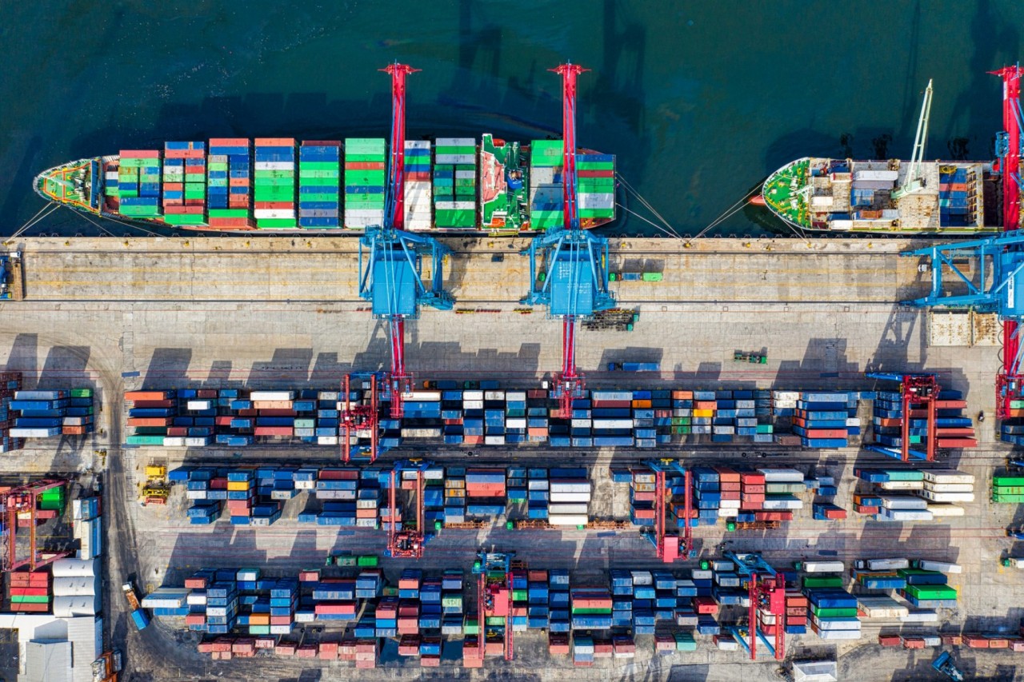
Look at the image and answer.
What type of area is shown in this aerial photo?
port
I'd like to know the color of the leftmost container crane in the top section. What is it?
blue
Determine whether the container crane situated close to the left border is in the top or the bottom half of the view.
bottom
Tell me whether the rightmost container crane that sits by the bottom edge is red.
Yes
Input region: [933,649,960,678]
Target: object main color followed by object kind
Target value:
blue truck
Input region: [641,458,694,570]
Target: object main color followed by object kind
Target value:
red container crane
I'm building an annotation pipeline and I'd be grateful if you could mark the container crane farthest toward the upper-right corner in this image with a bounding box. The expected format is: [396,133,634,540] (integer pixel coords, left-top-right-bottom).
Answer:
[900,55,1024,417]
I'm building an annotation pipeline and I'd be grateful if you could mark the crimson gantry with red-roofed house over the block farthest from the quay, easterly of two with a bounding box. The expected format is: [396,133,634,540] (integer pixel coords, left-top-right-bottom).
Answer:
[726,556,786,659]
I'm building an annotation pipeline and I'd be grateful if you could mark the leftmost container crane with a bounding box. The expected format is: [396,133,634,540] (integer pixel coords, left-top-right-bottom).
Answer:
[1,477,78,573]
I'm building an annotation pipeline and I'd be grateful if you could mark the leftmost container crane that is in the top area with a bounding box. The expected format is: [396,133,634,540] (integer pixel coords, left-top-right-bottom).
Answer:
[355,55,459,415]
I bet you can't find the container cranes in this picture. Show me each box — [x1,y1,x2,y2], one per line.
[1,477,78,573]
[867,371,941,463]
[474,553,516,660]
[641,458,694,570]
[387,460,435,561]
[900,55,1024,417]
[355,55,459,415]
[513,55,615,415]
[726,556,786,659]
[340,369,393,463]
